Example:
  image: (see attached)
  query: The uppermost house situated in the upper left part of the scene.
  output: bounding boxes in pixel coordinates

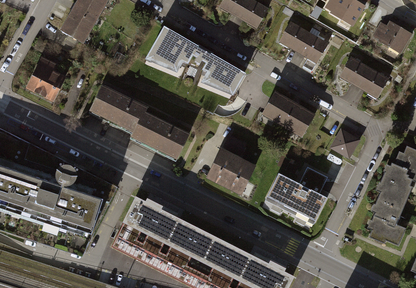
[62,0,108,44]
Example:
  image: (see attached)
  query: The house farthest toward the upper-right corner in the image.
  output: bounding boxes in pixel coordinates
[374,20,414,57]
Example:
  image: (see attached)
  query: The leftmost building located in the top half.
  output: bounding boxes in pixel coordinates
[26,56,69,104]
